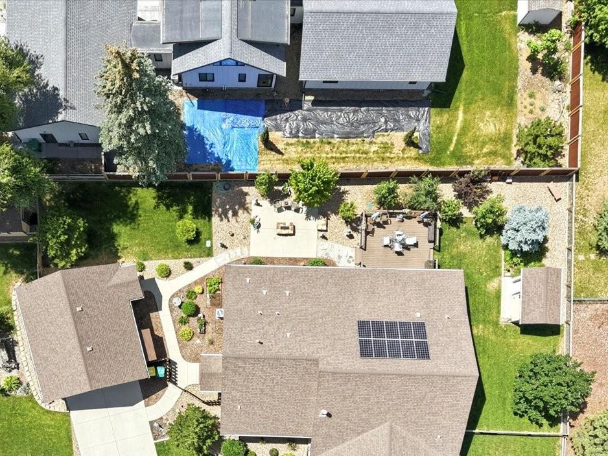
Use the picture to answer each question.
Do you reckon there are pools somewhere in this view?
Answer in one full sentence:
No, there appears to be no pool in this shot.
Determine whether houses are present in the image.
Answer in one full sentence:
Yes, this view includes a house.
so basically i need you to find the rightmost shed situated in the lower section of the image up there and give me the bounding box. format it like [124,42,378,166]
[512,265,562,325]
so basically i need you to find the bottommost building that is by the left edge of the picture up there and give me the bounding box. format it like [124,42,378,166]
[14,261,151,404]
